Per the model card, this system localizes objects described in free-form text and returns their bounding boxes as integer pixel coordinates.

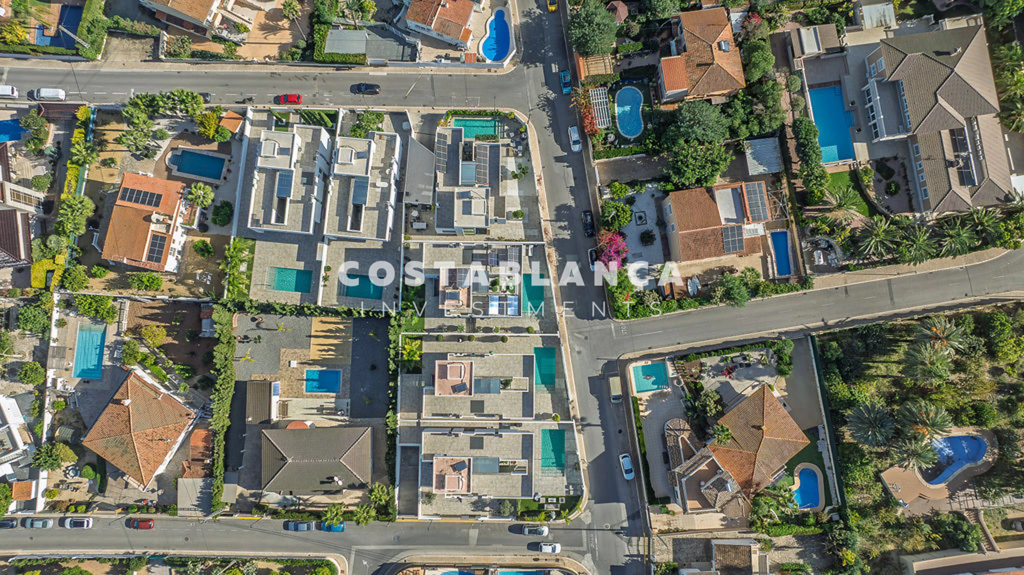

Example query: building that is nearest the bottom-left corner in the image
[12,477,41,501]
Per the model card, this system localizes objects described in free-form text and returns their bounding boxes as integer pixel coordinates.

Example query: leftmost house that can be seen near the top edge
[145,0,220,39]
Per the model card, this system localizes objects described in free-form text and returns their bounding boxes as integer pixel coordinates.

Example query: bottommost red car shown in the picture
[132,517,154,530]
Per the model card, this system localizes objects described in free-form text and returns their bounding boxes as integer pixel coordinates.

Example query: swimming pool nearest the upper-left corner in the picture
[34,4,82,48]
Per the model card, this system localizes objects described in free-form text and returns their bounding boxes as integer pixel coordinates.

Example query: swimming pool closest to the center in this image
[522,273,545,319]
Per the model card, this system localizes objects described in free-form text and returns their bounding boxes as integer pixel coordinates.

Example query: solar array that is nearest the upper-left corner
[120,187,162,202]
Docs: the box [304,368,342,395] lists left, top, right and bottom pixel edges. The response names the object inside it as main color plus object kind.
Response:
blue swimming pool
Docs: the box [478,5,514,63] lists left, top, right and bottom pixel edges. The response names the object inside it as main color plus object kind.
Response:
blue swimming pool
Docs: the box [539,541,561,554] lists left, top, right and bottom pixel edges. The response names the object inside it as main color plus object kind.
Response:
white vehicle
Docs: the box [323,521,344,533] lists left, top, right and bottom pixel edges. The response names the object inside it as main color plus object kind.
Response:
blue vehicle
